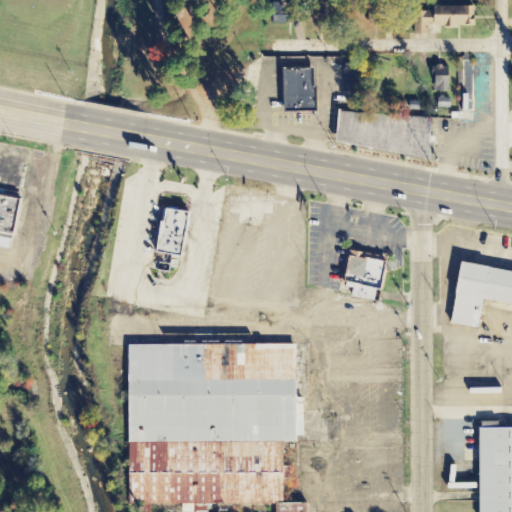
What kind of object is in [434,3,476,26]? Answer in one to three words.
house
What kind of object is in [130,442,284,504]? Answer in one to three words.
building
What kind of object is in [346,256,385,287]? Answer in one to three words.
building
